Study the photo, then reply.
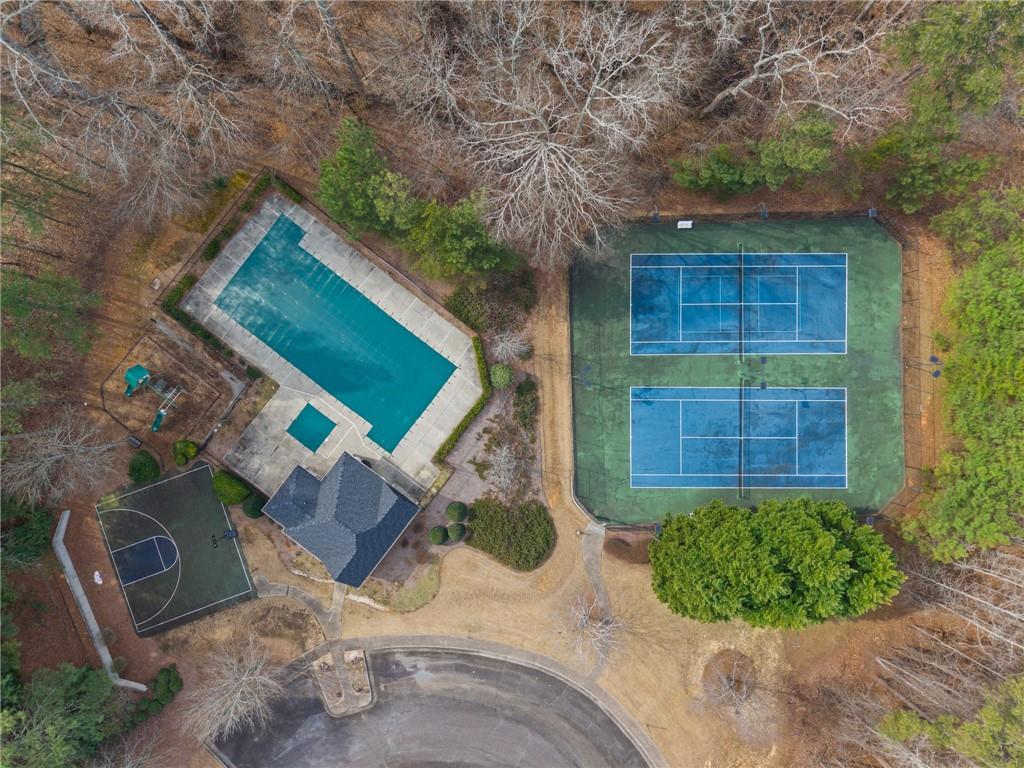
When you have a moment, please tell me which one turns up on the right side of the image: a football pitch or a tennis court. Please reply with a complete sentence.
You can see a tennis court on the right side of the image.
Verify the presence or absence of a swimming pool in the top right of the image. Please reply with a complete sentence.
No, there's no swimming pool to be seen in the top right of the image.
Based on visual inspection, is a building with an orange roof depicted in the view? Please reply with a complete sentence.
No, there's no building with an orange roof here.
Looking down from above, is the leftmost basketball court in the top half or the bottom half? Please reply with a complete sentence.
The leftmost basketball court is in the bottom half of the image.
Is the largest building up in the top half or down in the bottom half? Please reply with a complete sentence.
The largest building sits in the bottom half of the picture.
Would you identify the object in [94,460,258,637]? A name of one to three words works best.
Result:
basketball court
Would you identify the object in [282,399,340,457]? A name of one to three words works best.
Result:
swimming pool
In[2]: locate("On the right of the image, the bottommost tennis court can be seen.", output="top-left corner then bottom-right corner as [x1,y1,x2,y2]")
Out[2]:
[630,387,848,489]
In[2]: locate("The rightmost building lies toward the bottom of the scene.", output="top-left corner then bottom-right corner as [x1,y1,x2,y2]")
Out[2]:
[258,452,422,587]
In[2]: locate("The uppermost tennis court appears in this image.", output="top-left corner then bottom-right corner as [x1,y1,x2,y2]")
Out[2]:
[630,253,848,355]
